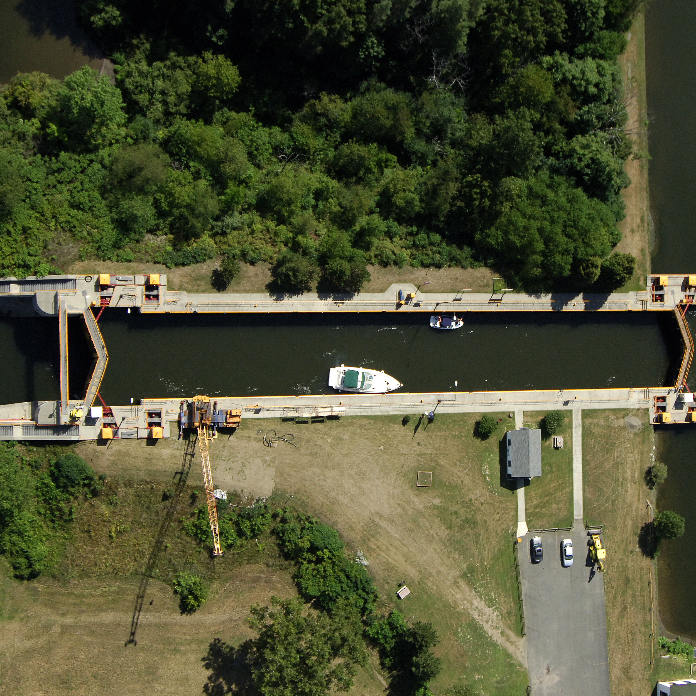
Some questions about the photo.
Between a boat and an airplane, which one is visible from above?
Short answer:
boat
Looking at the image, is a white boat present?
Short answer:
Yes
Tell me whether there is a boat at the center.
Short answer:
Yes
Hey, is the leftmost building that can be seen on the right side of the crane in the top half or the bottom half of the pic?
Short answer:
bottom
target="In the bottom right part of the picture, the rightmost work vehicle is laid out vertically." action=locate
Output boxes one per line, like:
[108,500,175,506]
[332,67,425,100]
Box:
[586,529,605,572]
